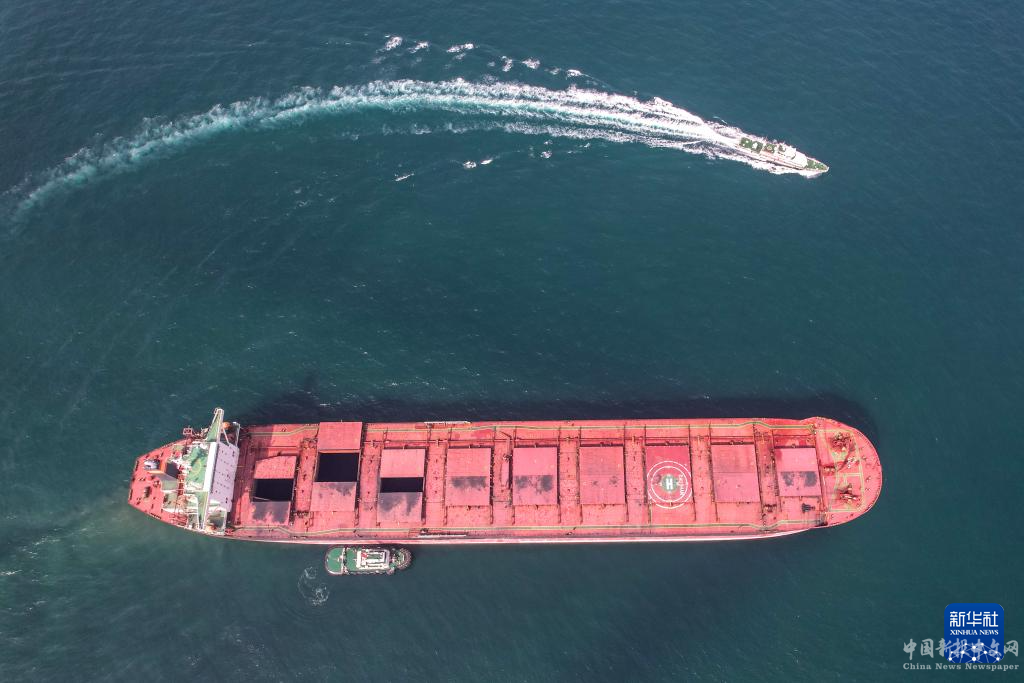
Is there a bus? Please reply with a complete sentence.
No, there isn't any bus down there.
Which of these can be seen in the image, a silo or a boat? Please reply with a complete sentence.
It is a boat that can be seen here.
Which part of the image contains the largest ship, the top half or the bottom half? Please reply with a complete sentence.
The largest ship sits in the bottom half of the picture.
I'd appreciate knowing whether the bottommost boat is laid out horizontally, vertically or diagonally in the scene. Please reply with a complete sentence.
Seen from above, the bottommost boat lies horizontally.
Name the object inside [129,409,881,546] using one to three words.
ship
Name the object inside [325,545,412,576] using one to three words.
boat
